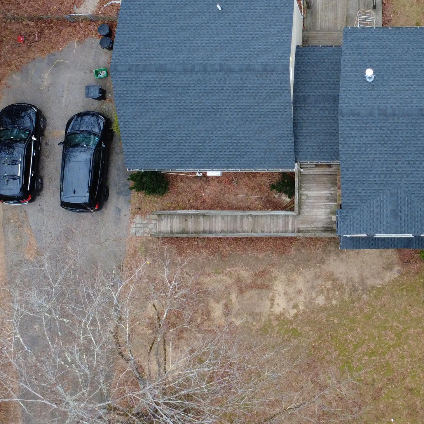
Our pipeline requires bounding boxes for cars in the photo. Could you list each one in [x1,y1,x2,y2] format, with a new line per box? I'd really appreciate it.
[58,109,114,214]
[0,101,48,206]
